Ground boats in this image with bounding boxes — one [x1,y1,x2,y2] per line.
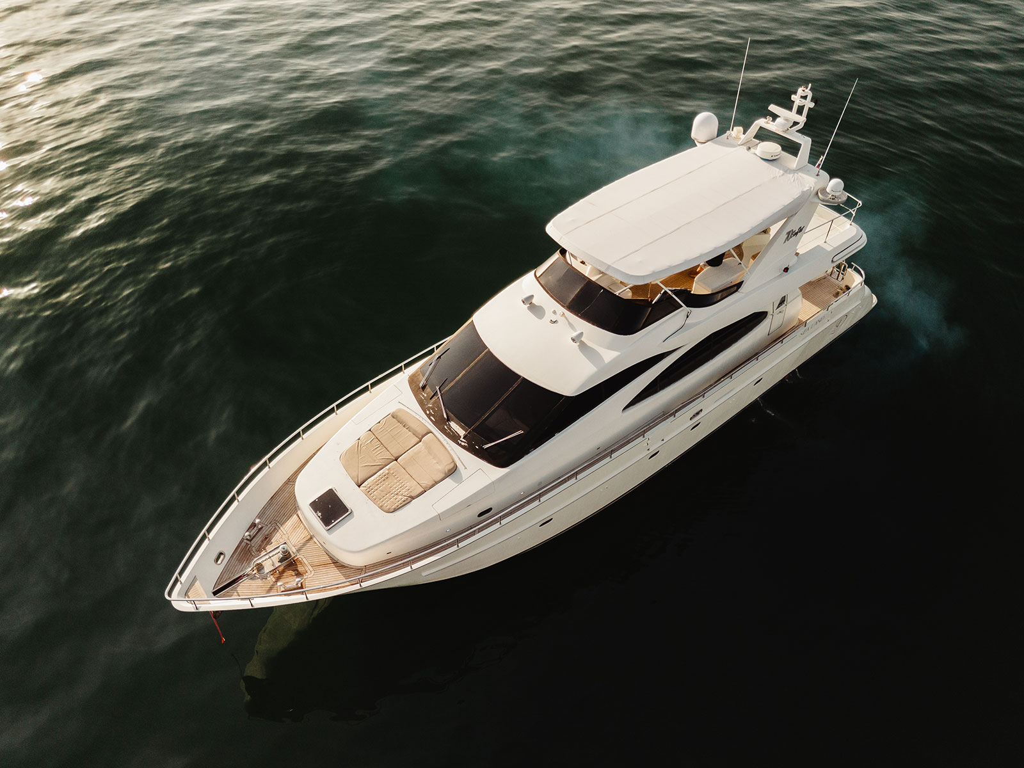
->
[165,38,872,620]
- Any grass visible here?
No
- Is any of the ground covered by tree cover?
No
